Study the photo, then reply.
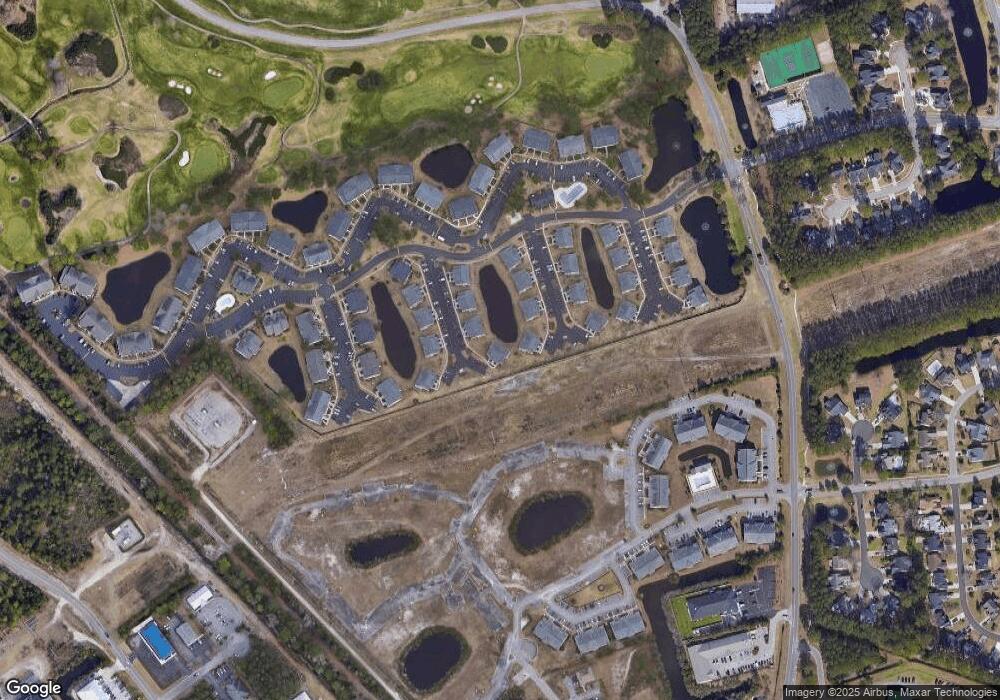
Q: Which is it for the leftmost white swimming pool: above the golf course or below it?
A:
below it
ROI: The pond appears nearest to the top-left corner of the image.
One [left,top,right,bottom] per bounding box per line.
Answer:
[104,253,171,324]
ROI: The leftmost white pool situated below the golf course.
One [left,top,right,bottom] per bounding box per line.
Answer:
[215,294,235,313]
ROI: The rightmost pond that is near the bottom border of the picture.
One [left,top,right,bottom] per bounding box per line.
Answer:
[642,561,751,700]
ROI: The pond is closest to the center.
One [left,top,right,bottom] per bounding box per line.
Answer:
[479,266,519,342]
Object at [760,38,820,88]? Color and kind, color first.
green sports court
